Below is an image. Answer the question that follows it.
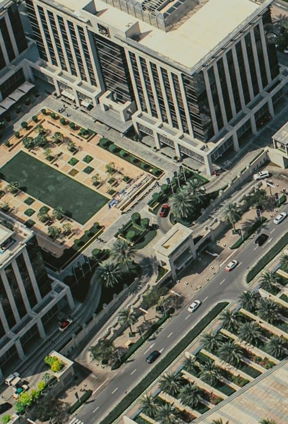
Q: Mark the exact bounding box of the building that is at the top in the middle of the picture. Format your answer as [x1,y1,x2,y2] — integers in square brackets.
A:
[26,0,288,176]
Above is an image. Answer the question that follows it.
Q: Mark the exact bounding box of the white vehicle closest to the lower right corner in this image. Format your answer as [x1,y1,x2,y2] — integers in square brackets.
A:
[186,299,203,315]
